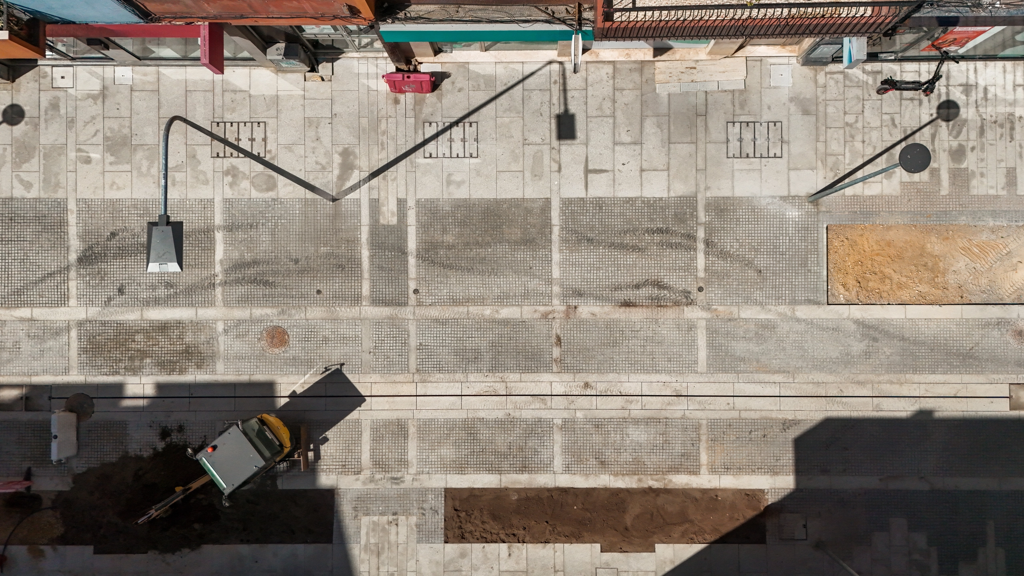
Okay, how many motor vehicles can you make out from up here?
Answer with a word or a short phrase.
two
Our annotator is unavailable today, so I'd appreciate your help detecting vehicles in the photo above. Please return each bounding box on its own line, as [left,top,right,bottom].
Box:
[879,47,962,99]
[134,402,313,526]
